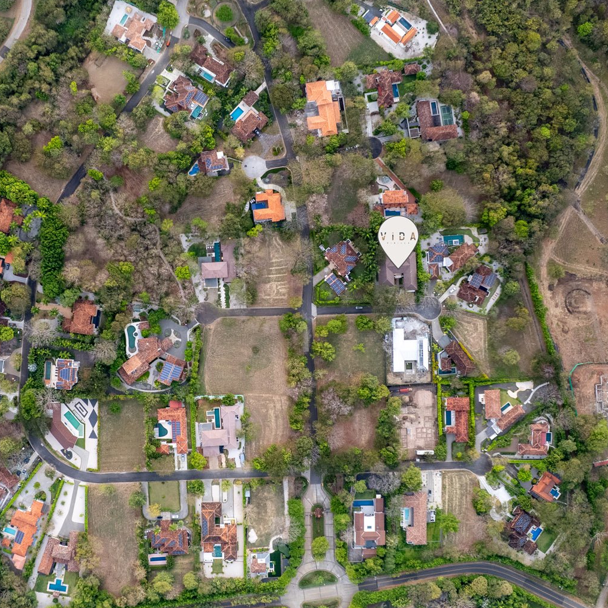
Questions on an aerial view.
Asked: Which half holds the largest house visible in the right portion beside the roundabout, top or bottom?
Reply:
bottom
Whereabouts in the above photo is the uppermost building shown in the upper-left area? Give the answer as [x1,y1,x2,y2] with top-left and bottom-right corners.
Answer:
[110,12,155,52]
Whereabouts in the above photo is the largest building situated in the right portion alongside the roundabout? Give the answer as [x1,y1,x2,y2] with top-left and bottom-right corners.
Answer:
[347,498,385,562]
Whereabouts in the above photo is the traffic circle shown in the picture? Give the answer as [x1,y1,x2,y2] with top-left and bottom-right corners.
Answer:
[282,559,360,608]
